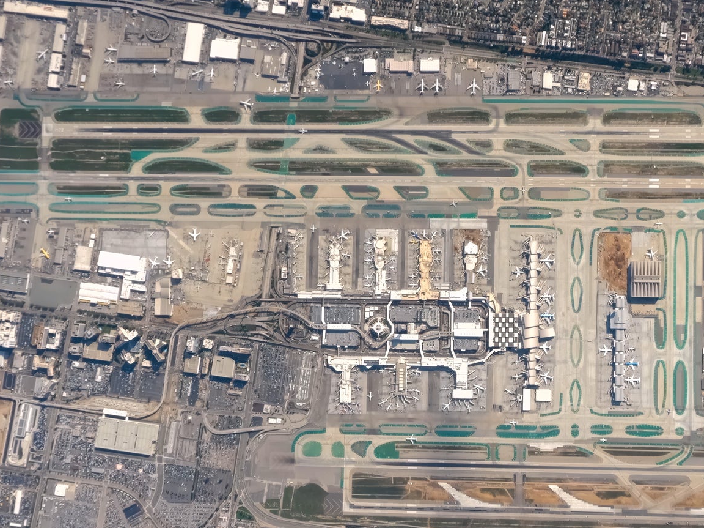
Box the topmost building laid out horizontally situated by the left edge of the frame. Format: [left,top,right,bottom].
[3,1,69,19]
